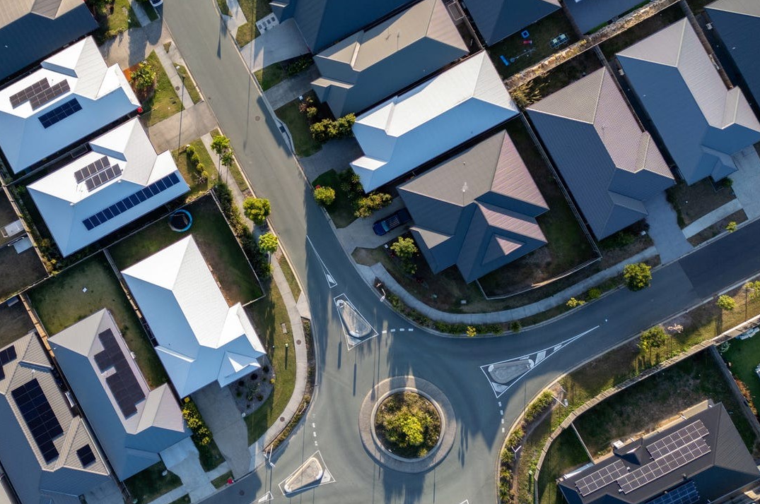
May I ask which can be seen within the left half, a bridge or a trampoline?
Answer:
trampoline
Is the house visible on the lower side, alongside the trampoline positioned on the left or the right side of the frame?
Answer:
left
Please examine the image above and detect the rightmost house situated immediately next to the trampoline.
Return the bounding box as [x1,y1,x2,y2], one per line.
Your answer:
[120,234,266,400]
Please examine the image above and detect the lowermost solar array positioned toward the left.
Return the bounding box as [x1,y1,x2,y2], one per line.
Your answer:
[76,445,96,467]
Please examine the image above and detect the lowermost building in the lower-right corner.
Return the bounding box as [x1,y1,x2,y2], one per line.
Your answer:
[554,397,760,504]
